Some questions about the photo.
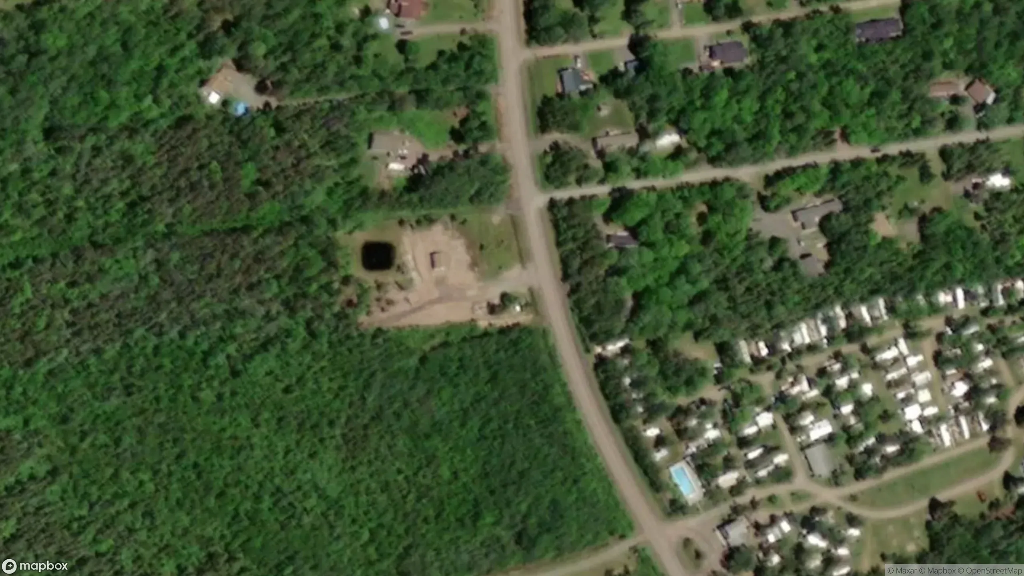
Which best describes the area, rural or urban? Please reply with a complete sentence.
The land in this view is best described as rural.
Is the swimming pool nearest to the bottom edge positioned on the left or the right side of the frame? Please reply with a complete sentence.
You can find the swimming pool nearest to the bottom edge on the right side of the picture.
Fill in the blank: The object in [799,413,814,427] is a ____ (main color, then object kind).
white camper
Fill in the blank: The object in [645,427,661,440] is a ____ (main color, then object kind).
white vehicle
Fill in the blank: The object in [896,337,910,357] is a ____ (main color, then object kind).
white camper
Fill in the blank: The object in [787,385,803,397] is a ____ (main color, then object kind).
white vehicle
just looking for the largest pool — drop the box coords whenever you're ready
[670,461,703,504]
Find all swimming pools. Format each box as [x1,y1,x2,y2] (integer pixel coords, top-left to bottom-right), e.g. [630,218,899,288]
[235,102,247,114]
[670,461,703,504]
